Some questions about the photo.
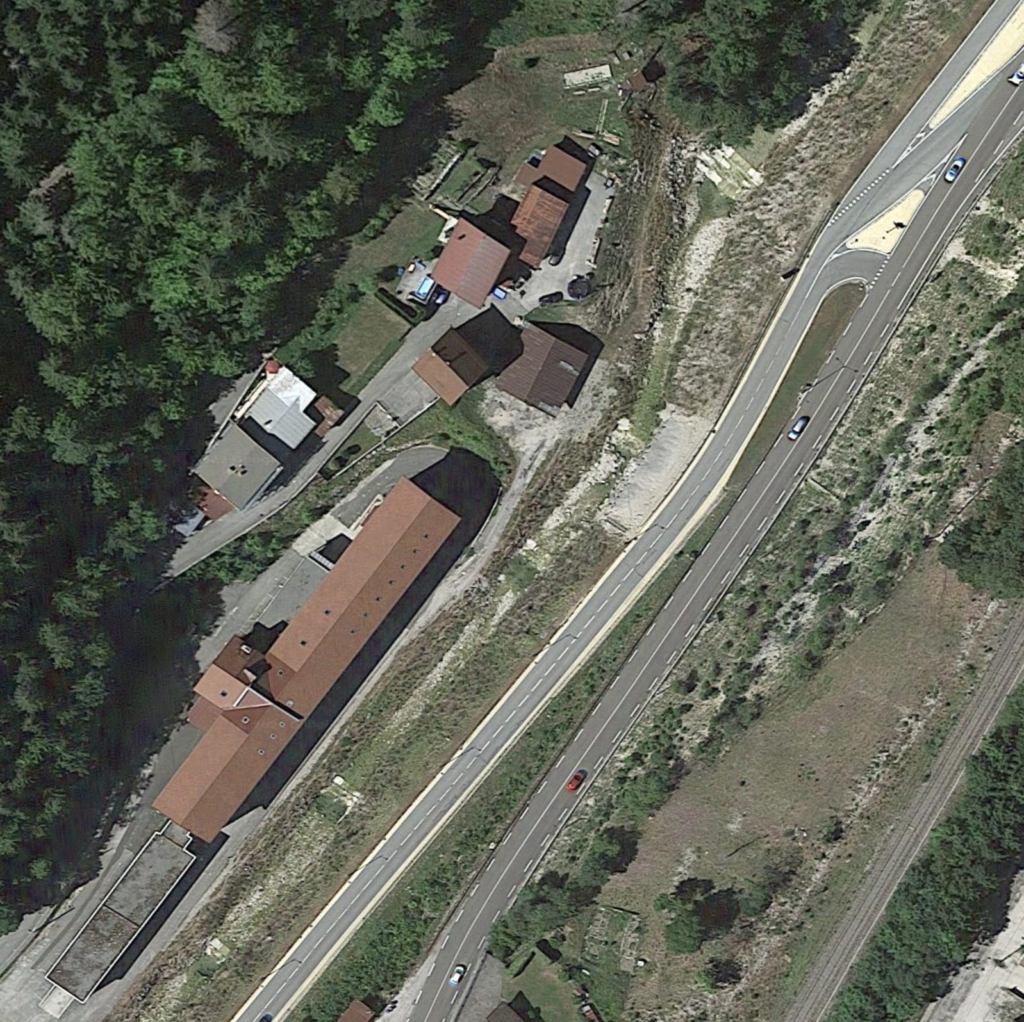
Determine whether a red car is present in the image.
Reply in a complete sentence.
Yes, this view includes a red car.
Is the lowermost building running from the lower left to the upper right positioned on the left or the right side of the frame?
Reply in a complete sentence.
You can find the lowermost building running from the lower left to the upper right on the left side of the picture.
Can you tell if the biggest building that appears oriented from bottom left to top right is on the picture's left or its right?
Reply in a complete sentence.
You can find the biggest building that appears oriented from bottom left to top right on the left side of the picture.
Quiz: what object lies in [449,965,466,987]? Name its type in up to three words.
car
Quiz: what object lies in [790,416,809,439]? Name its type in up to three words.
car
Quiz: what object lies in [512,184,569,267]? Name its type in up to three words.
house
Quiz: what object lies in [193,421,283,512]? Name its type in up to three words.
house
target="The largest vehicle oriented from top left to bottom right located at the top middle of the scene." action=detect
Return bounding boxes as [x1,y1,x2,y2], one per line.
[583,141,605,159]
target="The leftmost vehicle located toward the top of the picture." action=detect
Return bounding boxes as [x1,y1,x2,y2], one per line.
[431,288,447,309]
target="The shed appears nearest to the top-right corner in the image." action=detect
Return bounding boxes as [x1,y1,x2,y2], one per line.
[619,70,649,96]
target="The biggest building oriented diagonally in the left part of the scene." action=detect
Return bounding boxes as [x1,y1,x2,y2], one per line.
[152,476,461,843]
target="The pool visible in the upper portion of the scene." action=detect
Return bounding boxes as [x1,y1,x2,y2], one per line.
[416,276,433,298]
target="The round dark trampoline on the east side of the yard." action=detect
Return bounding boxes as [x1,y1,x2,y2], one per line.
[570,279,588,297]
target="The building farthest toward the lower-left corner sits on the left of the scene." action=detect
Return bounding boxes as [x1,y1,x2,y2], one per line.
[46,821,195,1003]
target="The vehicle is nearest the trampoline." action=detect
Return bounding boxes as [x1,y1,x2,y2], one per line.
[540,291,563,304]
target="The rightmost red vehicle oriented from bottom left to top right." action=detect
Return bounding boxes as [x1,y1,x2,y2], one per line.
[567,770,586,793]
